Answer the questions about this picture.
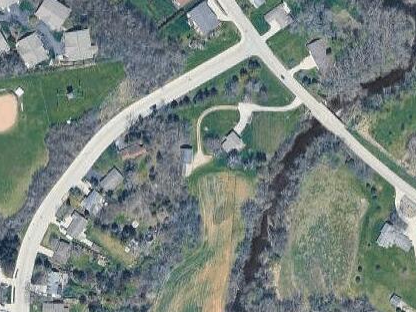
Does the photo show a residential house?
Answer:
Yes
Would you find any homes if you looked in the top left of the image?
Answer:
Yes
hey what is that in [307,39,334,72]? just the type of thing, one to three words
house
